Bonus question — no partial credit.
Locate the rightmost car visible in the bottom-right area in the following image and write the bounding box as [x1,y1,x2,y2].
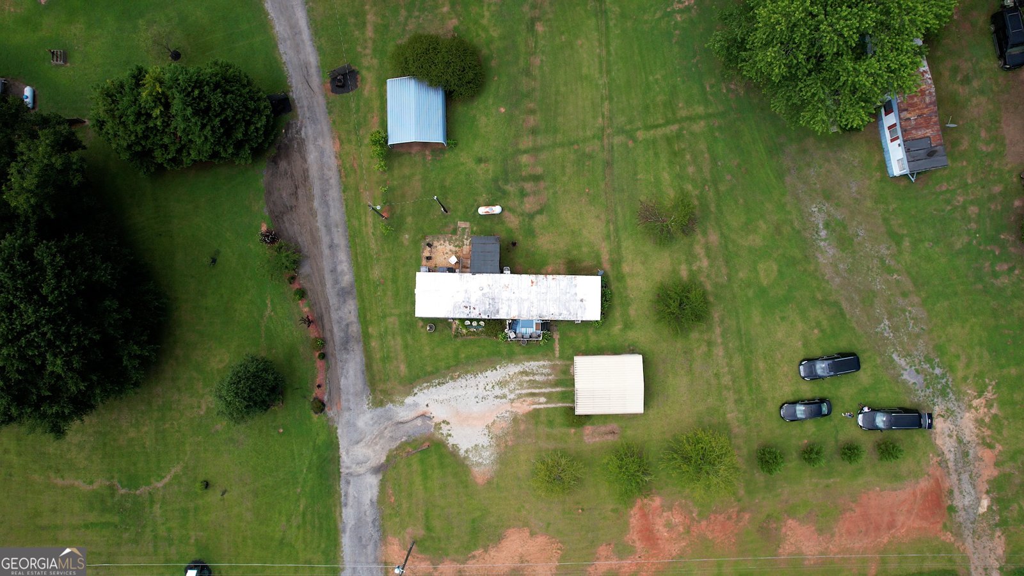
[855,407,934,434]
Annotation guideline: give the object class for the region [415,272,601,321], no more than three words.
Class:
house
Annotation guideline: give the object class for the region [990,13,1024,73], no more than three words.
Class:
car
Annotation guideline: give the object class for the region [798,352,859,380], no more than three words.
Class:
car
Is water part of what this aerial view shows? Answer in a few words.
No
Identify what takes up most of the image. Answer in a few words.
grass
